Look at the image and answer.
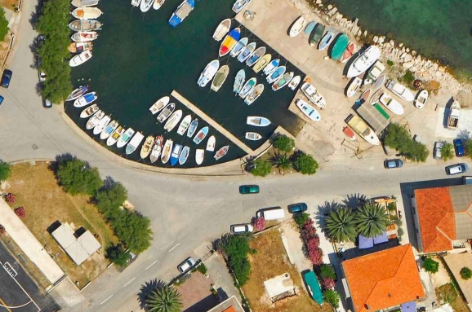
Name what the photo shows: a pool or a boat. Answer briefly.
boat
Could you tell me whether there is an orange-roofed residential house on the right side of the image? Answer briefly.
Yes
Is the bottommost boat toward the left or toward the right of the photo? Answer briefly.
right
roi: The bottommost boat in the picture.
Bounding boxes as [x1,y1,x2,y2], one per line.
[305,273,325,306]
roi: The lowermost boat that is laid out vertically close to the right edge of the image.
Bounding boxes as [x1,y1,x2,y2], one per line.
[448,100,461,129]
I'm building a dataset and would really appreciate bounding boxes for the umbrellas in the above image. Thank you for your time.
[358,235,372,247]
[400,302,416,312]
[373,232,387,245]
